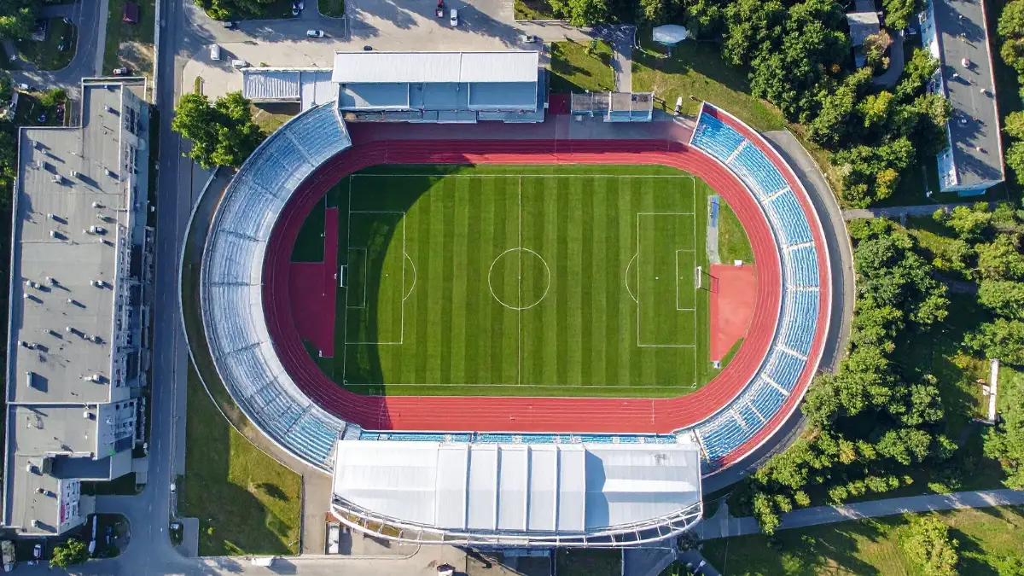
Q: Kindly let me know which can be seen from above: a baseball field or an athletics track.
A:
athletics track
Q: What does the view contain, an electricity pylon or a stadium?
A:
stadium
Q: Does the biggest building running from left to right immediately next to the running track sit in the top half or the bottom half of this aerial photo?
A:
top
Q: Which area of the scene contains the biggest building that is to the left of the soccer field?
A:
left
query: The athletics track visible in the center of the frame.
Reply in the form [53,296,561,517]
[263,119,781,431]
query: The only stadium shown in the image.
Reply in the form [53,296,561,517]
[201,100,831,546]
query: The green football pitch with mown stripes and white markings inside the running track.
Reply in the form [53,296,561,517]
[288,163,757,396]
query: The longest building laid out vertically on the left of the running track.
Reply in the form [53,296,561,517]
[3,77,157,535]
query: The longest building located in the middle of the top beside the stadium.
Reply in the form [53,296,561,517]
[331,51,550,126]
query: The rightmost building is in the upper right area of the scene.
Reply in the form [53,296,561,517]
[911,0,1005,197]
